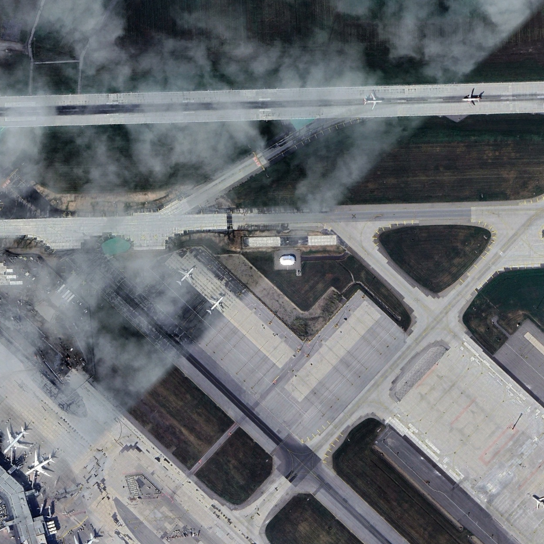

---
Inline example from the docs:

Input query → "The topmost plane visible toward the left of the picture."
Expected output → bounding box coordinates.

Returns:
[176,267,195,285]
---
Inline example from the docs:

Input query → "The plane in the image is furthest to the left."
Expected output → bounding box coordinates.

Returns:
[4,424,30,454]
